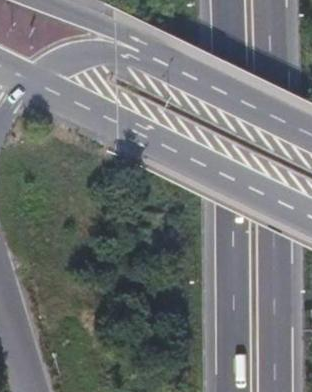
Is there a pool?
No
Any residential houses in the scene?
No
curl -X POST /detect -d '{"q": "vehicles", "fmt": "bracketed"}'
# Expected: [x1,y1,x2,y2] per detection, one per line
[6,84,26,104]
[234,212,244,222]
[235,352,246,386]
